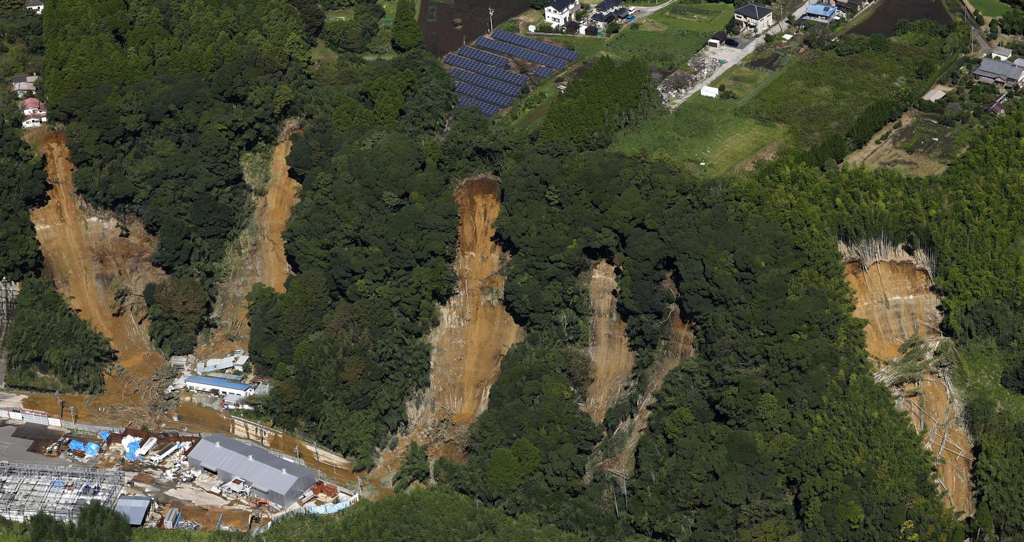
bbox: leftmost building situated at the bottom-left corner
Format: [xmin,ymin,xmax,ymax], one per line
[0,461,126,522]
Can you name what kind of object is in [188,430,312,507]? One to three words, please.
building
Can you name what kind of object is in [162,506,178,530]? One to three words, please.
vehicle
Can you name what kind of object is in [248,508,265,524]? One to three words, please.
work vehicle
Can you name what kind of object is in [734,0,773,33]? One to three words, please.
house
